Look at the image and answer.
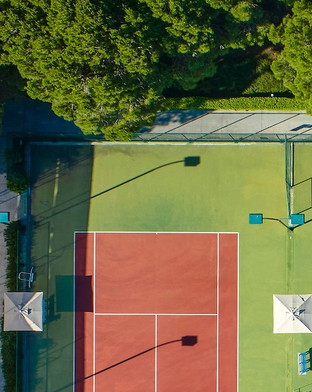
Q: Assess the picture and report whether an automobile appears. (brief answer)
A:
No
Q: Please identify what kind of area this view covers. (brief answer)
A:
sports ground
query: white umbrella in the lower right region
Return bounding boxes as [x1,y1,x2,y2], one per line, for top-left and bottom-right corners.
[275,295,312,333]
